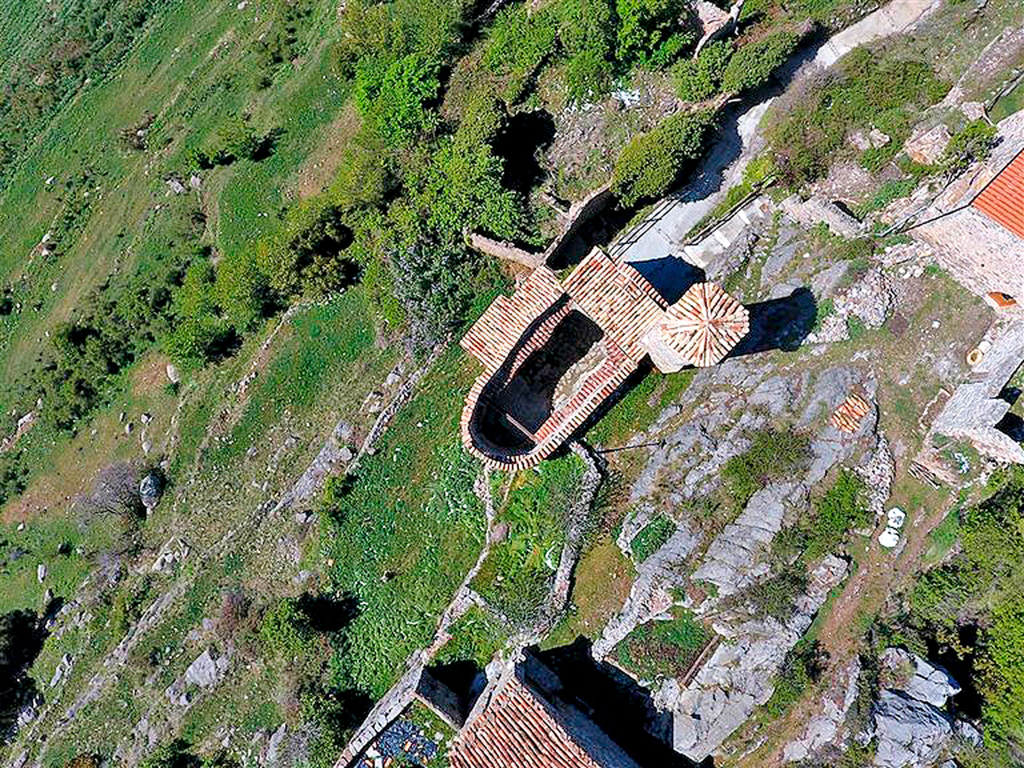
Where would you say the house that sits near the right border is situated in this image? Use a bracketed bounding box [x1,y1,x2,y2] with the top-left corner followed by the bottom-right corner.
[902,121,1024,319]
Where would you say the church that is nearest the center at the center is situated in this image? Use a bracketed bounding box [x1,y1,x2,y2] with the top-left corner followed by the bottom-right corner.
[459,245,672,472]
